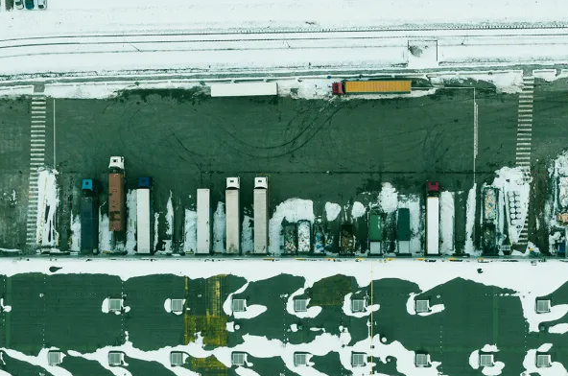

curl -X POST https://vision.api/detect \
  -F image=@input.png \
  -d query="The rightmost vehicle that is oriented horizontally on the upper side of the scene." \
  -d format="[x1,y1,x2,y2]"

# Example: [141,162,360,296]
[334,80,412,96]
